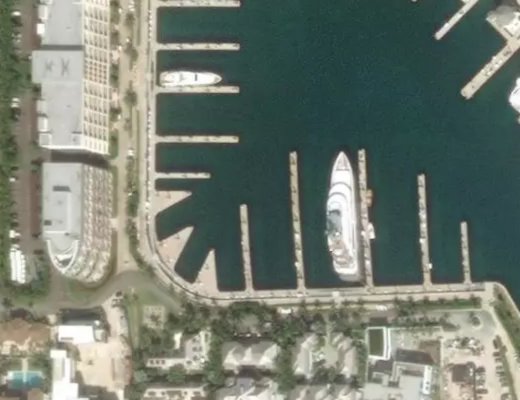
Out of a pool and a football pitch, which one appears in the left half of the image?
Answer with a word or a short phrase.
pool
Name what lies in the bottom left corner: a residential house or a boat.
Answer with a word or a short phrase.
residential house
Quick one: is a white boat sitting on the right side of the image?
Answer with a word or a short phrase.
Yes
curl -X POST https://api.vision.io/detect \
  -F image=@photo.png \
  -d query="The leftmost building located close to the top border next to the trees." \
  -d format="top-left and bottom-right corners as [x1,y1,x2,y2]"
[32,0,110,155]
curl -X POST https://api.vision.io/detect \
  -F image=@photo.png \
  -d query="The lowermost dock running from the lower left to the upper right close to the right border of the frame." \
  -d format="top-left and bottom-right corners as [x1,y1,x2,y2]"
[461,40,520,99]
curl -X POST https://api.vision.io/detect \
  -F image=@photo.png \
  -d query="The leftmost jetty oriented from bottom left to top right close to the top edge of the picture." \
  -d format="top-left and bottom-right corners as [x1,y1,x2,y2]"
[435,0,478,42]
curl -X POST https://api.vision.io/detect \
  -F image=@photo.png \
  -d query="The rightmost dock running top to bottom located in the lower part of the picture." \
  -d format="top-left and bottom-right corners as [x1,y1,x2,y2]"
[461,222,473,283]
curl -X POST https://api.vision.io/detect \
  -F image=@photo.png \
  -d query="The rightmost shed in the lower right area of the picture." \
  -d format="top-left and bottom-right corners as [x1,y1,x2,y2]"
[452,363,471,384]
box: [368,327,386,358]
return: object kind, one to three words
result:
sports court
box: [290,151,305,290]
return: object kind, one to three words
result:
pier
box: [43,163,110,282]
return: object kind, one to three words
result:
building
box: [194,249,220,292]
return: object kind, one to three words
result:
pier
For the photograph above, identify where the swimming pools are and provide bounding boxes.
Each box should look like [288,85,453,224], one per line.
[6,357,43,390]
